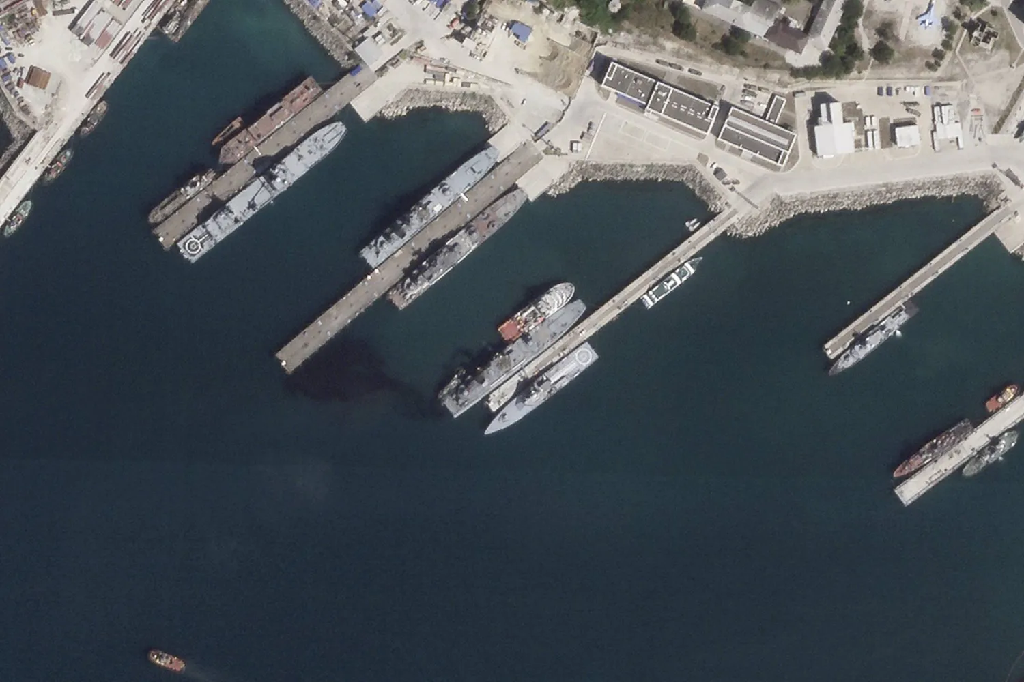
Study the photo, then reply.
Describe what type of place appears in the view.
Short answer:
port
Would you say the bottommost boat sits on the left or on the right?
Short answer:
left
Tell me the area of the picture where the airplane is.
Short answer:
top right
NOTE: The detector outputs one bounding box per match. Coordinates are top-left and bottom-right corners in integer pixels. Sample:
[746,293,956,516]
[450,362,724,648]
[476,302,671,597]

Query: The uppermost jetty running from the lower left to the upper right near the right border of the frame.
[824,205,1017,359]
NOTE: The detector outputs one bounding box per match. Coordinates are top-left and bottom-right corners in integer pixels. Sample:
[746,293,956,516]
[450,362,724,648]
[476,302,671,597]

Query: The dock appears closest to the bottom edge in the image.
[895,393,1024,506]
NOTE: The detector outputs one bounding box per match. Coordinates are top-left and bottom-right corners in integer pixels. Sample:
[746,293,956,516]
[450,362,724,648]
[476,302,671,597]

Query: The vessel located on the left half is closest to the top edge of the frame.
[157,0,208,40]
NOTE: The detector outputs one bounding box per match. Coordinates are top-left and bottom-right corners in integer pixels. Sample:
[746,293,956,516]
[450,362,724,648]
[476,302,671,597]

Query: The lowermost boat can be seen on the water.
[148,651,185,673]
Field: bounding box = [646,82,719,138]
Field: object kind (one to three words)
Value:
building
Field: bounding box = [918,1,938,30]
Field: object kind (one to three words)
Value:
airplane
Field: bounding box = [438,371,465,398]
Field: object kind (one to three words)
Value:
boat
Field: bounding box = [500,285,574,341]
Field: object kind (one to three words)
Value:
ship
